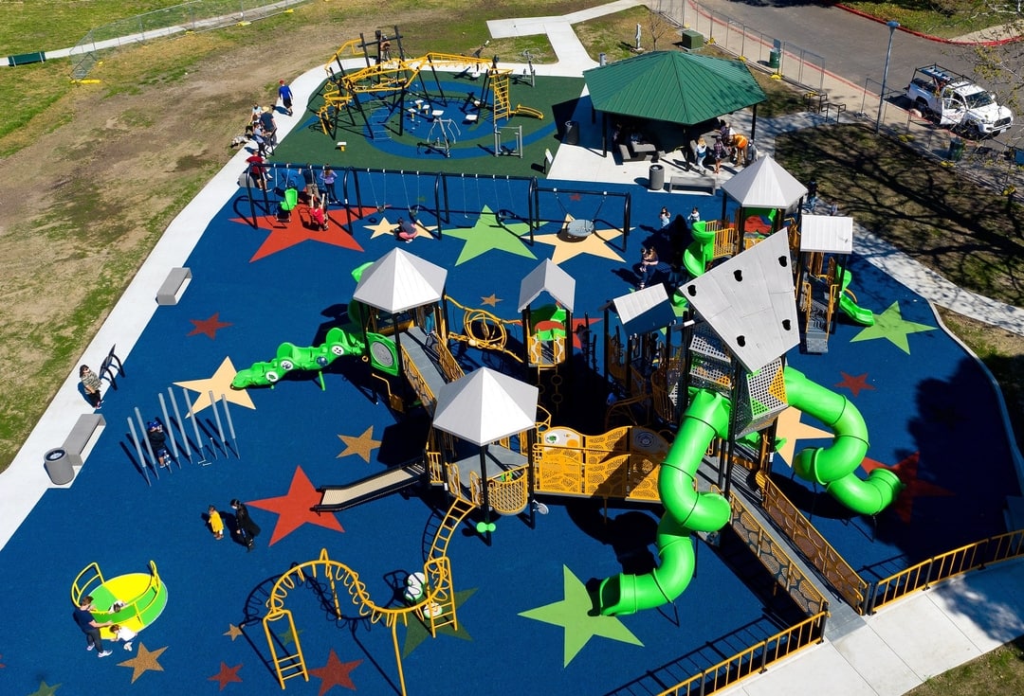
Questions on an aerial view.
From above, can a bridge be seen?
Yes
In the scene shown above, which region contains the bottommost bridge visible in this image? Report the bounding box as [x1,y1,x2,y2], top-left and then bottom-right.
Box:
[535,429,704,537]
